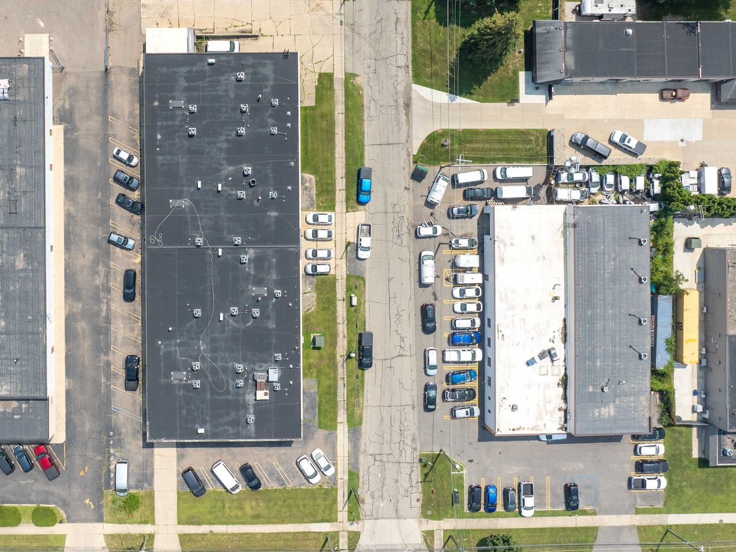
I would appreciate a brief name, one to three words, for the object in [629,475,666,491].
vehicle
